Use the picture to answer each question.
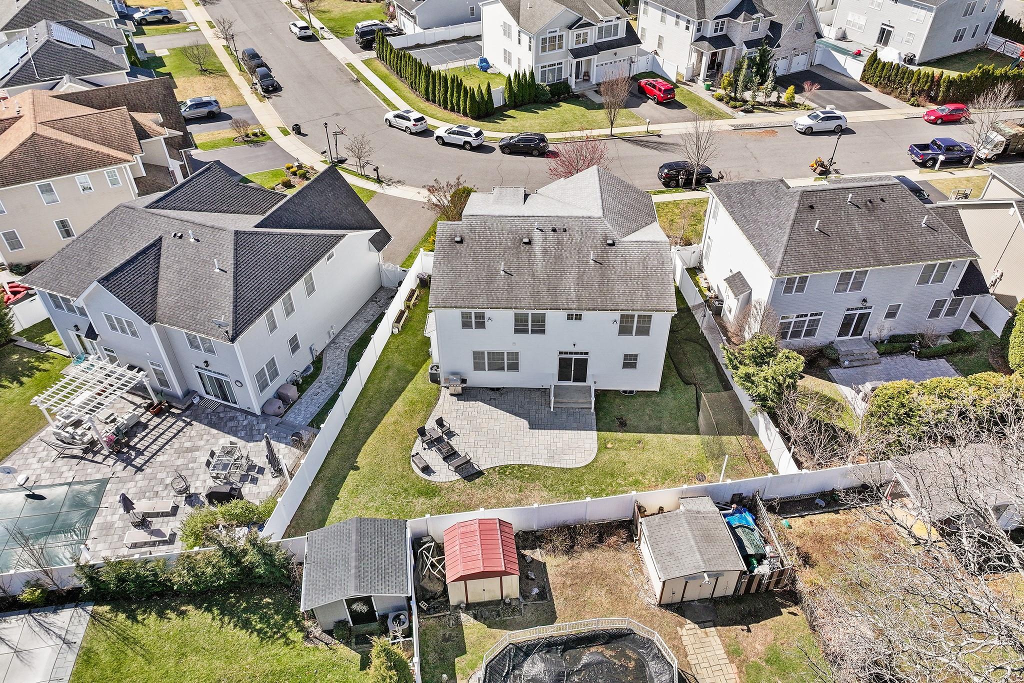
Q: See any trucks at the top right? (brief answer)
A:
Yes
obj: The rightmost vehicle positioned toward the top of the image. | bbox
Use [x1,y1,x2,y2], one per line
[971,116,1024,160]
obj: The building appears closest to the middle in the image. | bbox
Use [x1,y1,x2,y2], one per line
[420,165,678,414]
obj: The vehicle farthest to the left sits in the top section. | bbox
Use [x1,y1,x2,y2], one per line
[147,4,175,22]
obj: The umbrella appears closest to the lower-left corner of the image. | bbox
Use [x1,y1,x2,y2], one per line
[117,494,140,527]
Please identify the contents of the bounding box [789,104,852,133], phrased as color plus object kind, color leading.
white car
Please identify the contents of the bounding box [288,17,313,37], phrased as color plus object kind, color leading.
white car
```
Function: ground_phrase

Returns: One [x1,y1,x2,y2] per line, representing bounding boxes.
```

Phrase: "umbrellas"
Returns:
[117,494,140,527]
[262,434,283,476]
